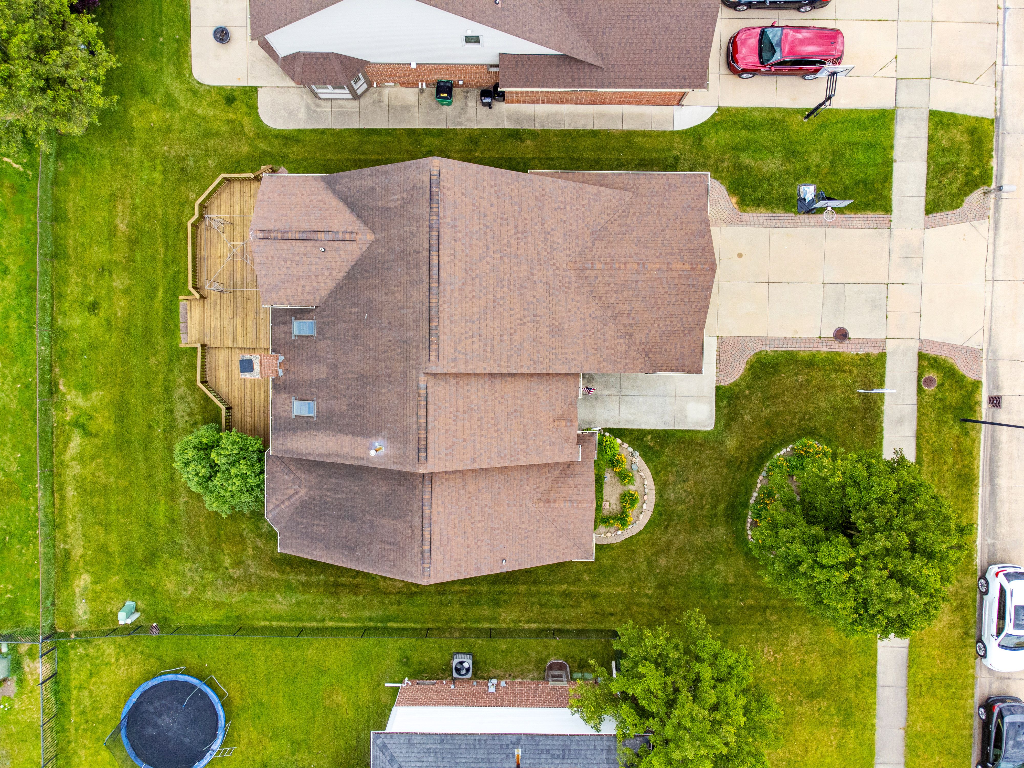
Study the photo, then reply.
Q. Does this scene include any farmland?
No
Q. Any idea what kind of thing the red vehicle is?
automobile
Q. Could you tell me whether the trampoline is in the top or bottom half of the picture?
bottom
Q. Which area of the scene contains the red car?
top right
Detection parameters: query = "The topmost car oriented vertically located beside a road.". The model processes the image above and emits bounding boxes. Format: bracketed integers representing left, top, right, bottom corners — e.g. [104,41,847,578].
[969,557,1024,668]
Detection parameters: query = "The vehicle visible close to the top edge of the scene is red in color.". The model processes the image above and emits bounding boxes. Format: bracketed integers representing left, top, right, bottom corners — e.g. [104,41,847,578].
[727,11,851,74]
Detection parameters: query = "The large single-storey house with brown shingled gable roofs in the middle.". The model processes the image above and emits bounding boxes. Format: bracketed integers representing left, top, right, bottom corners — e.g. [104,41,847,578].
[238,157,717,584]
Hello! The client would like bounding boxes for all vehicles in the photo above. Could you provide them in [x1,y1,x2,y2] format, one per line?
[969,685,1024,768]
[724,0,838,12]
[969,557,1024,668]
[727,11,851,74]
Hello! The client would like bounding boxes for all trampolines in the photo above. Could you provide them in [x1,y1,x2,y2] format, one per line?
[103,667,236,768]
